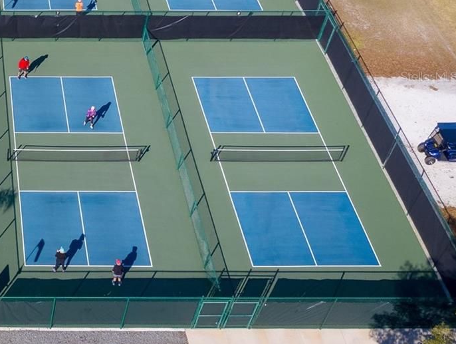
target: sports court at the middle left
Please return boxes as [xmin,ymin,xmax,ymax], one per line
[0,38,220,323]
